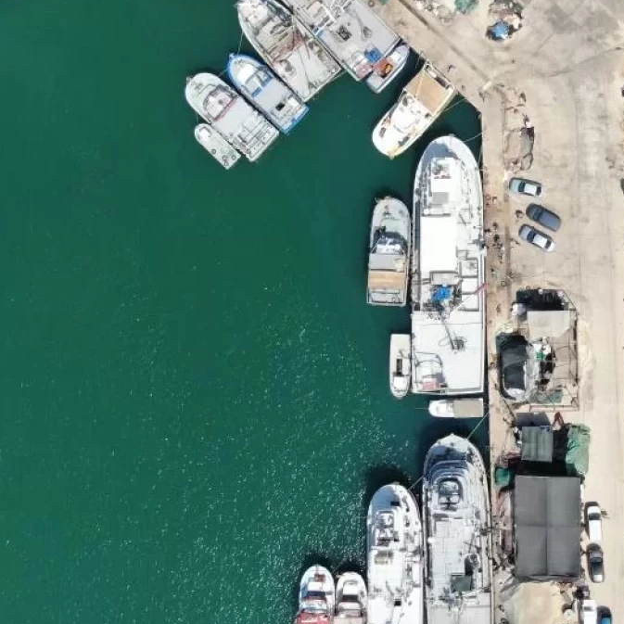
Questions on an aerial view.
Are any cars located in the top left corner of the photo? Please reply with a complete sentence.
No, there is no car in the top left corner of the photo.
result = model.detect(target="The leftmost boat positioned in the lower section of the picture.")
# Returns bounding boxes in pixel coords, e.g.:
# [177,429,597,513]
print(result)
[298,563,334,624]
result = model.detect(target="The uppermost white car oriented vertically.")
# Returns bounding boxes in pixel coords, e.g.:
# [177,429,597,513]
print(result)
[586,505,604,545]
